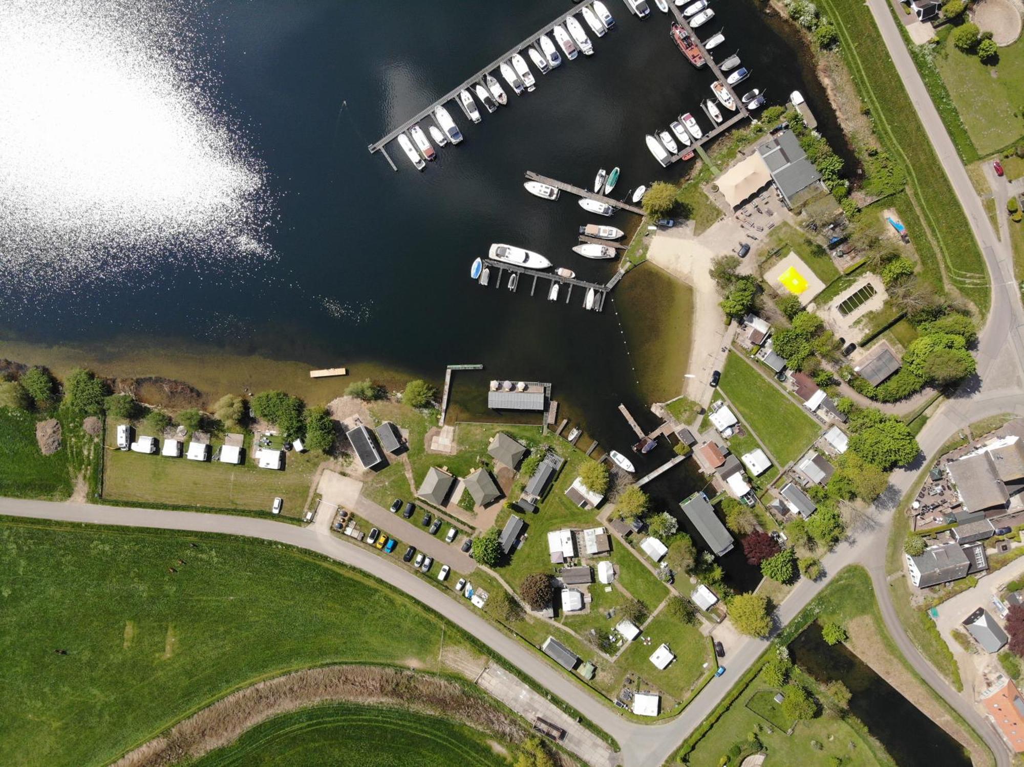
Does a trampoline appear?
Yes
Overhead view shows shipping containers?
Yes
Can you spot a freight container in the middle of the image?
No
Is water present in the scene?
Yes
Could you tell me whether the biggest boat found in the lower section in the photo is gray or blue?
gray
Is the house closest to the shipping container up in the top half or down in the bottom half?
bottom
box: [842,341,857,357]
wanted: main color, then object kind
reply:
black car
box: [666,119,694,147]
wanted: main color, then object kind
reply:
white boat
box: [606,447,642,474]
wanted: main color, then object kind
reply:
white boat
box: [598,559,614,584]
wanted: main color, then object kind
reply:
white tent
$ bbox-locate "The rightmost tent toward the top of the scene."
[714,152,772,210]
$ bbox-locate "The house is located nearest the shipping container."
[542,635,578,671]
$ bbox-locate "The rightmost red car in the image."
[991,160,1004,176]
